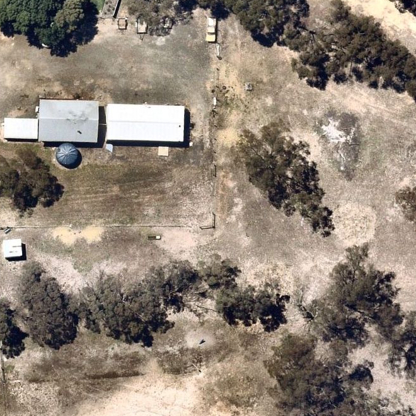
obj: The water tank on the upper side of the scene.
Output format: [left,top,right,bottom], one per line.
[56,142,80,168]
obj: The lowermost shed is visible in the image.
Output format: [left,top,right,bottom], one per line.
[2,239,21,258]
